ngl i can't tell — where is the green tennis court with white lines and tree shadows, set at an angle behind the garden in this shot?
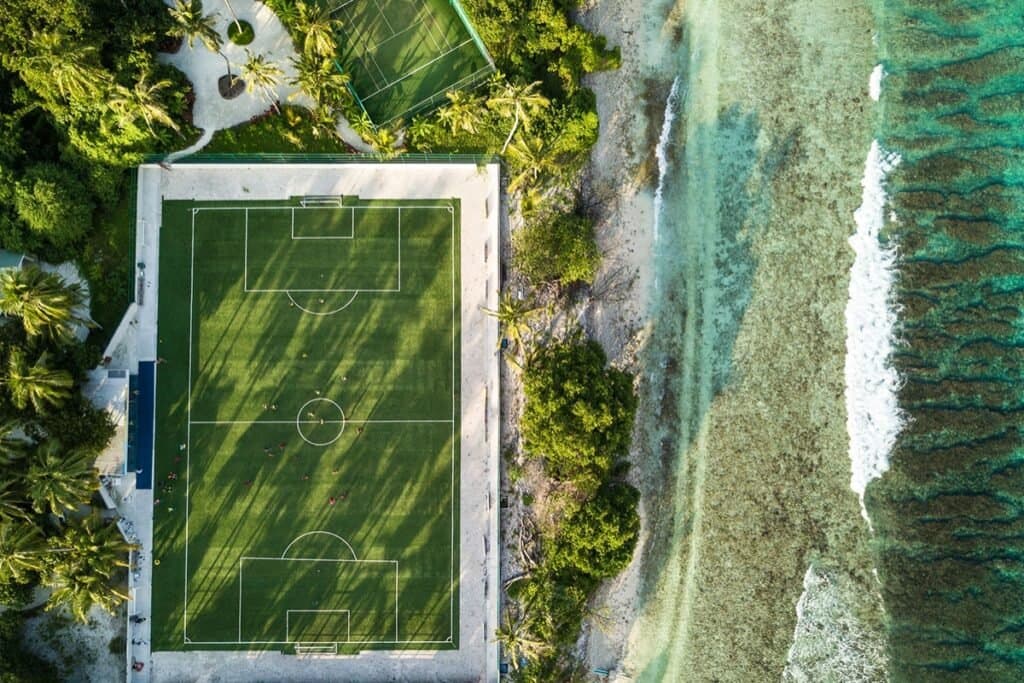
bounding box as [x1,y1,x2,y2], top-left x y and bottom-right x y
[307,0,492,132]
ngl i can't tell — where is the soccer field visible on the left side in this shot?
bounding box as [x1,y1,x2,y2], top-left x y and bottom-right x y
[152,195,461,655]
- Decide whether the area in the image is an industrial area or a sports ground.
sports ground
